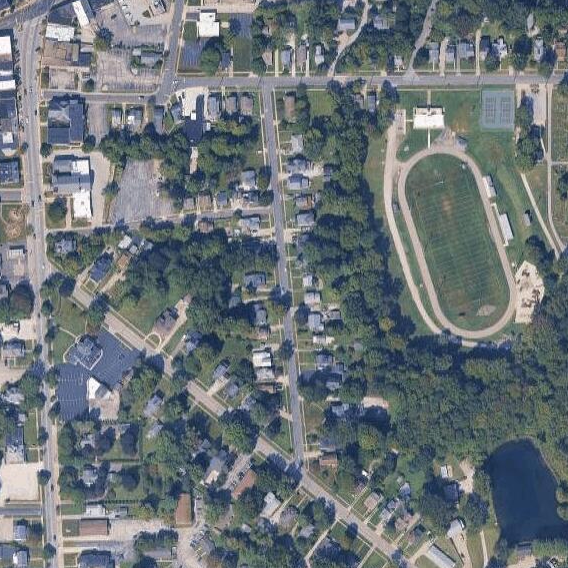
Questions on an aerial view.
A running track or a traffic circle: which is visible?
running track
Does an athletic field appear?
Yes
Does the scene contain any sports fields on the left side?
No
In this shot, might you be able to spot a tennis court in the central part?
No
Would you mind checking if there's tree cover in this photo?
Yes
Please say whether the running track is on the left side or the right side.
right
